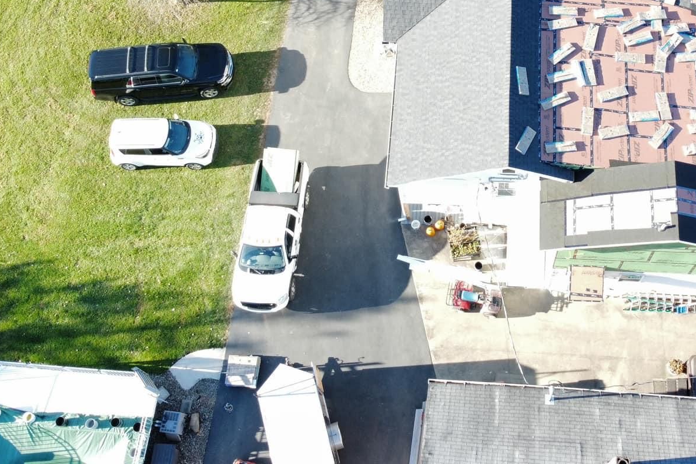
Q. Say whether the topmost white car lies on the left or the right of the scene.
left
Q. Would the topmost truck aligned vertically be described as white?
Yes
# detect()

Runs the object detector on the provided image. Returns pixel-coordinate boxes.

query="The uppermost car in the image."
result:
[88,37,239,106]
